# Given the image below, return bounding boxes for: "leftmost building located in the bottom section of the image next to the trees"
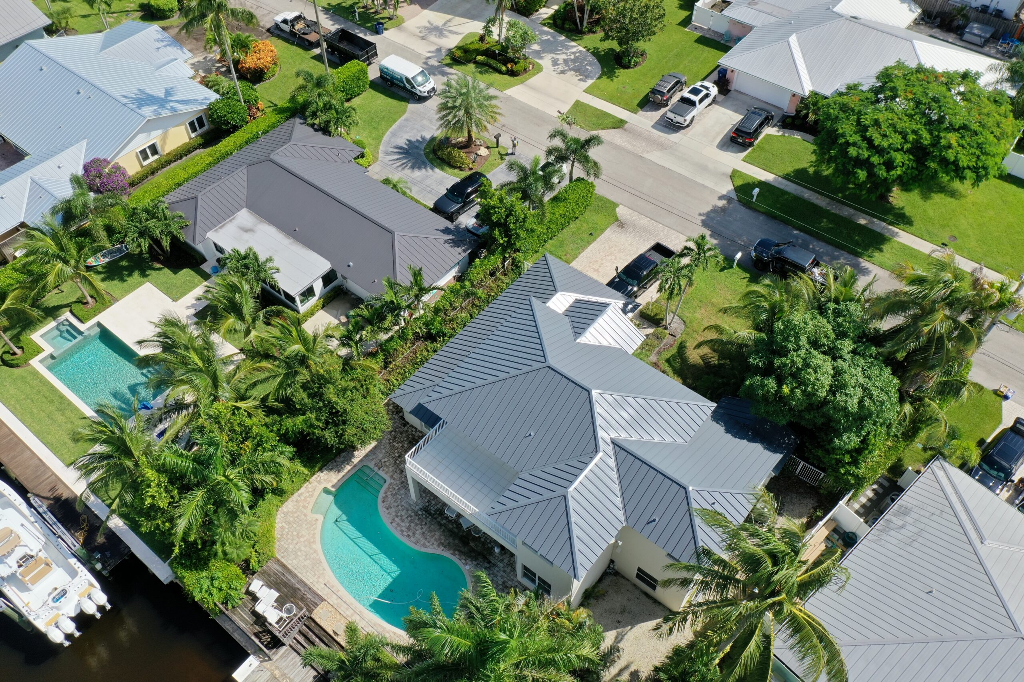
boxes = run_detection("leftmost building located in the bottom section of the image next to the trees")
[388,252,792,612]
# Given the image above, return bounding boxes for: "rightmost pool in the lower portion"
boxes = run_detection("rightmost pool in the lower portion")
[321,465,469,629]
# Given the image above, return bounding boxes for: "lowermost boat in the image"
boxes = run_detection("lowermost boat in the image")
[224,646,265,682]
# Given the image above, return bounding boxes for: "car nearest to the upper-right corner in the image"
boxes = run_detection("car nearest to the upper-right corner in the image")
[730,107,777,147]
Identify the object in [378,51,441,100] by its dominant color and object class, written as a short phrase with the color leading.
white van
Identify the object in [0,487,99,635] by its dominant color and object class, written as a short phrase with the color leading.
white boat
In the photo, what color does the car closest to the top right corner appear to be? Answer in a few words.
black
